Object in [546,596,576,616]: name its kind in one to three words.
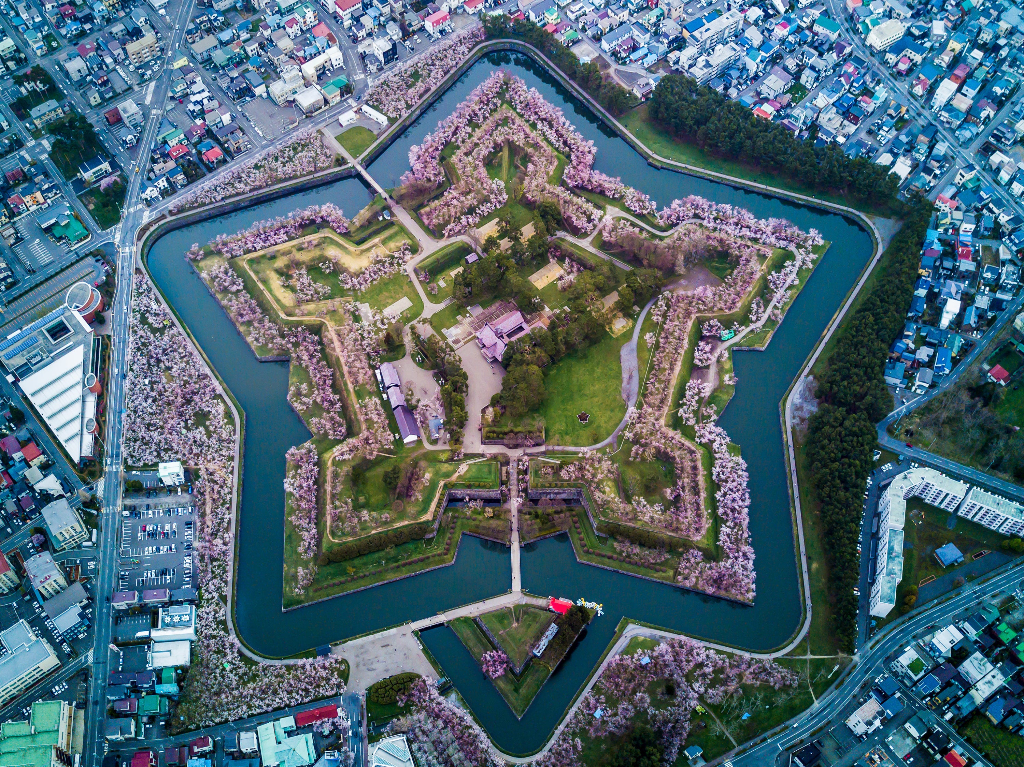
building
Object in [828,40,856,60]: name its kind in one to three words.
house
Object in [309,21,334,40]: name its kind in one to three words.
house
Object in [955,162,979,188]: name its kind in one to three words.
building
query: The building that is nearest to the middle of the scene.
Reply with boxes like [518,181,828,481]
[470,307,543,371]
